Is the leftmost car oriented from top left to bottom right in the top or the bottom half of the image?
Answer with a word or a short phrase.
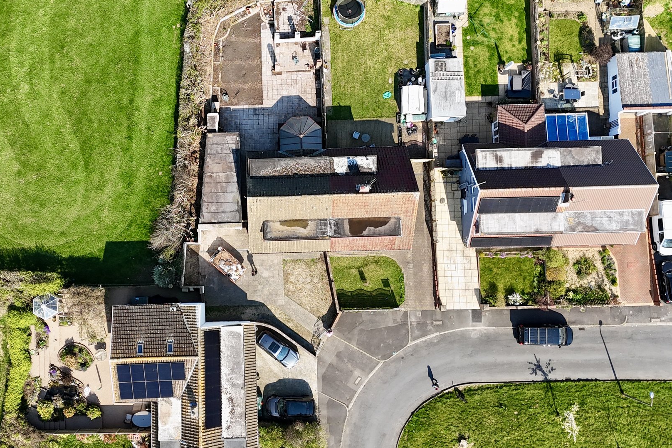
bottom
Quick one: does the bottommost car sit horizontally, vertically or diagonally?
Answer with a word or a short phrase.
horizontally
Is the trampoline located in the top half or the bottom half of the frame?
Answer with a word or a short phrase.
top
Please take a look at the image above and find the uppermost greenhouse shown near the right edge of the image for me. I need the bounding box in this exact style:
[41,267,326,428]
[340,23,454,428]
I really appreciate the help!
[600,9,642,35]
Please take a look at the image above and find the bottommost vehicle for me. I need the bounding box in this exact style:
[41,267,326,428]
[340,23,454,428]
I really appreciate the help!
[265,394,318,422]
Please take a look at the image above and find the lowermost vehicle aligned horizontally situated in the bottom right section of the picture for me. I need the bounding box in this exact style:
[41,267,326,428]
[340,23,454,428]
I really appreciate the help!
[515,323,572,349]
